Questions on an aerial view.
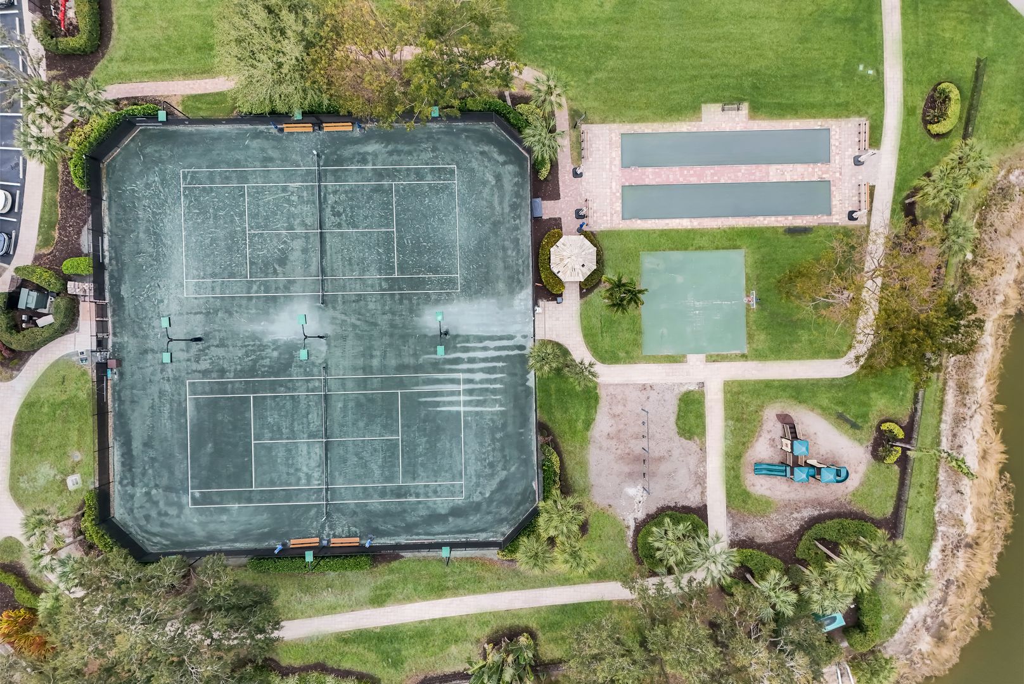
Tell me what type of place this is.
sports ground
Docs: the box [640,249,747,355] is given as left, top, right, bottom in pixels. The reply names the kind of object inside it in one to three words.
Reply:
basketball court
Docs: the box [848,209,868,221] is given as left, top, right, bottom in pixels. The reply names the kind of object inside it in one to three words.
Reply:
umbrella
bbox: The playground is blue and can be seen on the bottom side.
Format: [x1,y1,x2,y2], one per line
[754,414,851,486]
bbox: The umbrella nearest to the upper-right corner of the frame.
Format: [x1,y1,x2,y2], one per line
[854,151,875,165]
